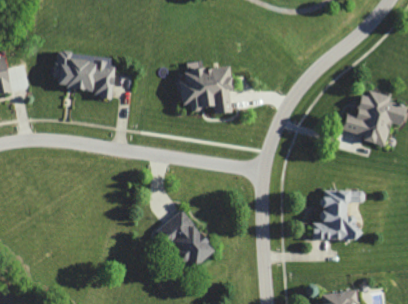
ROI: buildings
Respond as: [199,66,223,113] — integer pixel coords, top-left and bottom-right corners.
[55,50,116,106]
[323,290,359,304]
[148,213,215,268]
[314,188,368,244]
[345,90,408,145]
[0,51,11,94]
[179,60,234,114]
